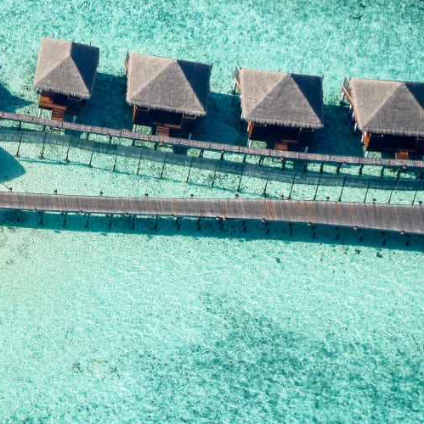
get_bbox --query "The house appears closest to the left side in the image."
[31,38,100,122]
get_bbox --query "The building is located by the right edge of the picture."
[339,78,424,160]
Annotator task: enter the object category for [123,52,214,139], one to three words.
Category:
house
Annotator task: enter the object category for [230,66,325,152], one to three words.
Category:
house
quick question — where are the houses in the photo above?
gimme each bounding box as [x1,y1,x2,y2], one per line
[339,78,424,160]
[123,52,214,139]
[230,66,325,152]
[31,38,100,122]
